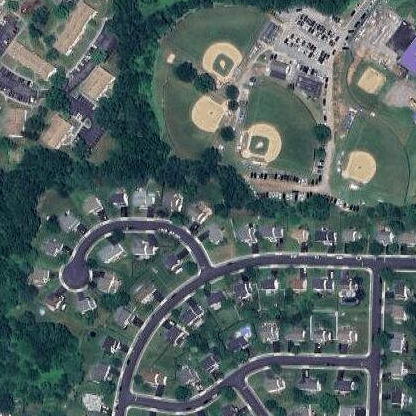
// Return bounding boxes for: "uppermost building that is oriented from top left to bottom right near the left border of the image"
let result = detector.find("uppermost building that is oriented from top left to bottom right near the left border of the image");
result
[9,41,55,78]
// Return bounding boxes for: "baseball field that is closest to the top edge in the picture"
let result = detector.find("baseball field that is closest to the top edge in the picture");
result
[203,43,242,88]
